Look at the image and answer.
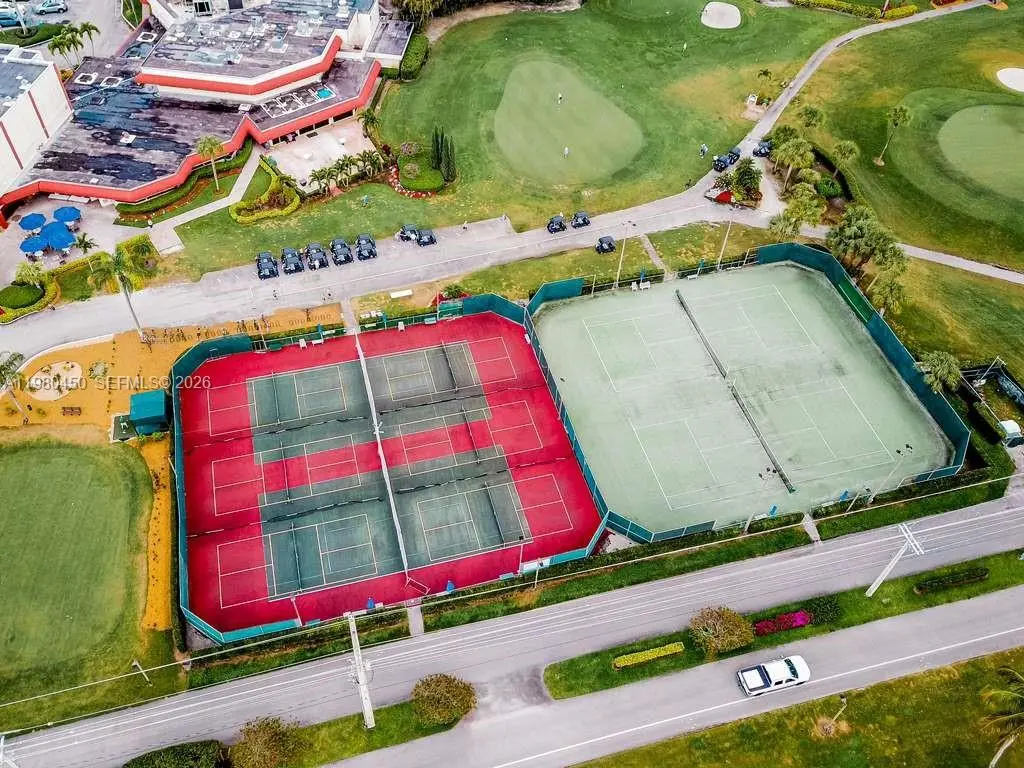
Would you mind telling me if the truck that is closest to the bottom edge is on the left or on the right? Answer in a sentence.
You can find the truck that is closest to the bottom edge on the right side of the picture.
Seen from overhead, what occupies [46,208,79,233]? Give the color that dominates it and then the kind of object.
blue umbrella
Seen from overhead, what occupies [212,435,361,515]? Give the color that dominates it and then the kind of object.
red sports court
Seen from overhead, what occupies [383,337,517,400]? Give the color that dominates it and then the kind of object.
gray sports court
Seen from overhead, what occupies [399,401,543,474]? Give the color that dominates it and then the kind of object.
red sports court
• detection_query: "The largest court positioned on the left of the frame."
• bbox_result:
[180,311,601,635]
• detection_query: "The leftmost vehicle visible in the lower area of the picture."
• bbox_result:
[735,658,810,696]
